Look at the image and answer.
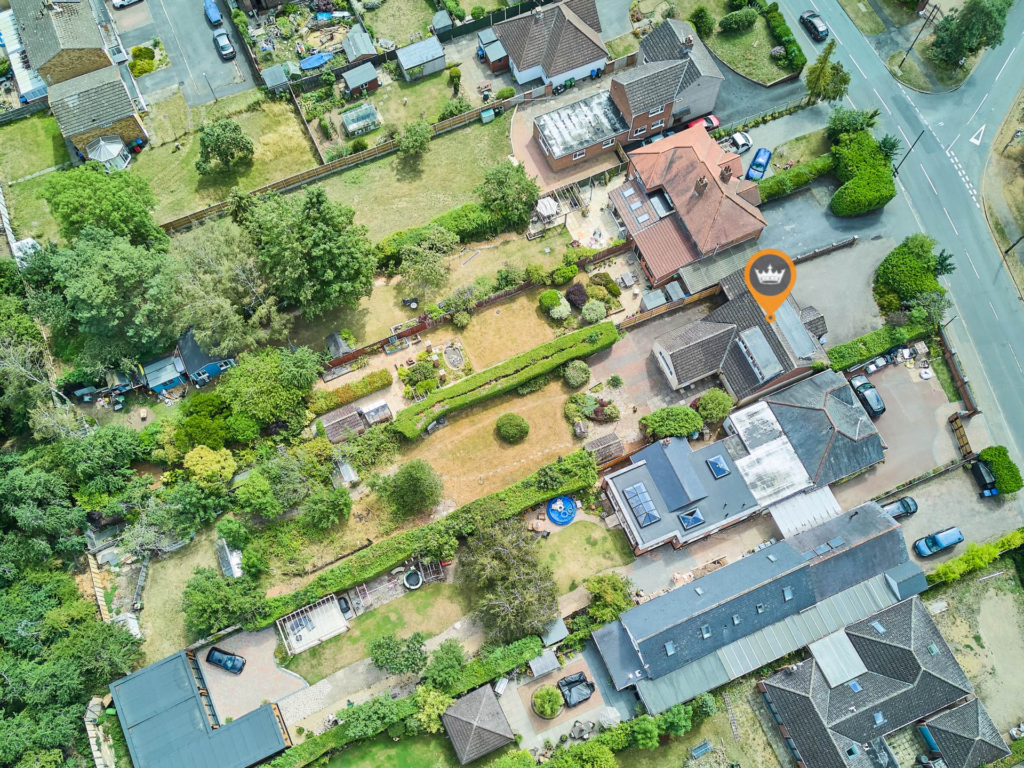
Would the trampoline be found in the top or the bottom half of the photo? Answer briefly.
bottom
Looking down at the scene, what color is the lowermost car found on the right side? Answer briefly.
blue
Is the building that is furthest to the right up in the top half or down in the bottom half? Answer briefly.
bottom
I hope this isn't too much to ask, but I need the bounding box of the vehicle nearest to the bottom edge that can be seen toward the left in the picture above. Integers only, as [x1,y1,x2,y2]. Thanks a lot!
[202,643,250,678]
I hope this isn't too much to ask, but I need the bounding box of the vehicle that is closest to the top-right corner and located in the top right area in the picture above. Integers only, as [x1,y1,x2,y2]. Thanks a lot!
[797,8,833,45]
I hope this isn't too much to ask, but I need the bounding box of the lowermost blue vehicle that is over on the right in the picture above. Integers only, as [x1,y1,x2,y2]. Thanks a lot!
[911,524,968,558]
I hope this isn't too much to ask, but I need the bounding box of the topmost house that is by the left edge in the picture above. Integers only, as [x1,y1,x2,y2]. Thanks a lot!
[0,0,135,109]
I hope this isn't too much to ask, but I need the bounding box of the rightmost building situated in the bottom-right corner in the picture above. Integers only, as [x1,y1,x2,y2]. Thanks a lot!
[917,697,1013,768]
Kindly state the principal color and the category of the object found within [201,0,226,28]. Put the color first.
blue car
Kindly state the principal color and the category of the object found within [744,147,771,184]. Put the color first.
blue car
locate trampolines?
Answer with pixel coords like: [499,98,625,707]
[403,570,423,590]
